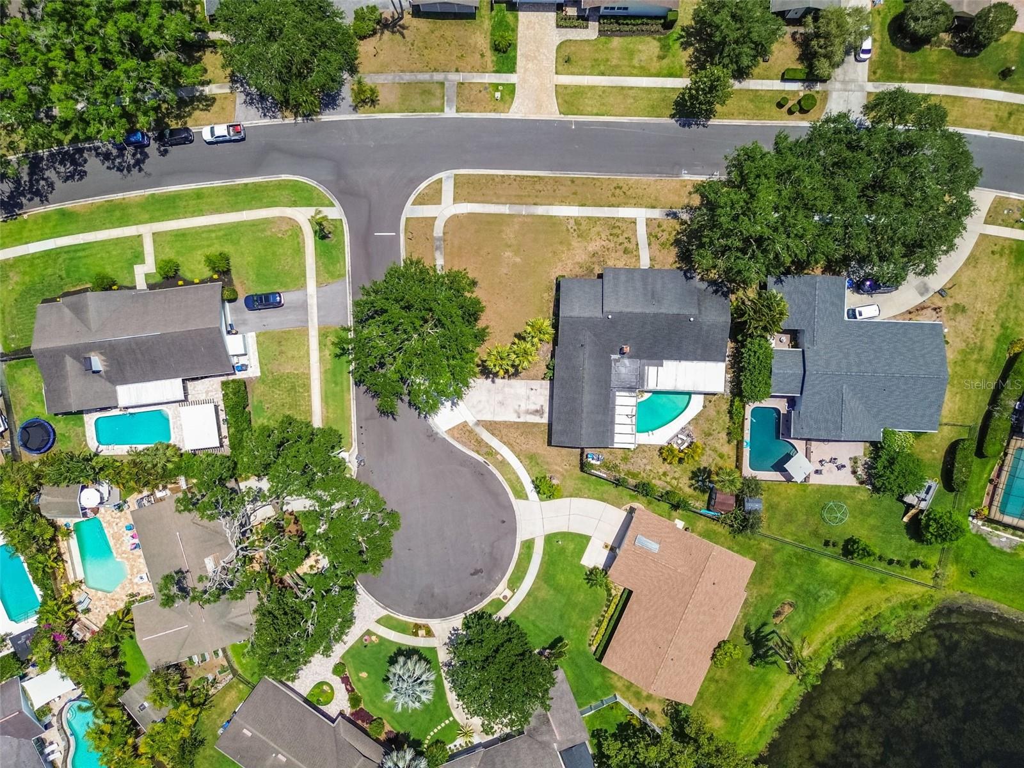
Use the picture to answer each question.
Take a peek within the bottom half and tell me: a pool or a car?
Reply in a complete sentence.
The one visible within the bottom half is a pool.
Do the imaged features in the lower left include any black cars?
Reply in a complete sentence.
No, the scene shows no black car in the lower left.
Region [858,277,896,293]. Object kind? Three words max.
car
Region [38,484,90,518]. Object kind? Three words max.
shed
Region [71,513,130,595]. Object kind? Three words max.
swimming pool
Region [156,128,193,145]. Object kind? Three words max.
car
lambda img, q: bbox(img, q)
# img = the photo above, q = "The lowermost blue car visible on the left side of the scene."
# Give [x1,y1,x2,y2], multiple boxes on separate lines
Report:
[243,292,280,310]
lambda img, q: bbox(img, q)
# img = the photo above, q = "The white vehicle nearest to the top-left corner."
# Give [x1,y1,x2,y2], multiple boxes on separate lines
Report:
[201,122,244,141]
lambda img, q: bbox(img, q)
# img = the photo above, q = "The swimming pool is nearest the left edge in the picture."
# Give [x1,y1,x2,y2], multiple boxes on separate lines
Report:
[0,541,40,627]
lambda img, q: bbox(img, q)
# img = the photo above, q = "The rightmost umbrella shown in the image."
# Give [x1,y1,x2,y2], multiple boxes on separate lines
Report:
[783,452,814,482]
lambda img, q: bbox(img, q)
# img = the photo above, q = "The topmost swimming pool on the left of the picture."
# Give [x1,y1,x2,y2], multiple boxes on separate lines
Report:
[91,406,175,451]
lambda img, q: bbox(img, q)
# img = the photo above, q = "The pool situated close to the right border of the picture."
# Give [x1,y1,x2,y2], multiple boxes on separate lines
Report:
[996,438,1024,523]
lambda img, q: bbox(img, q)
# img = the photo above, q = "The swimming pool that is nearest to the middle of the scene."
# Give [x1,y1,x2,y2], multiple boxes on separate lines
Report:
[635,391,695,437]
